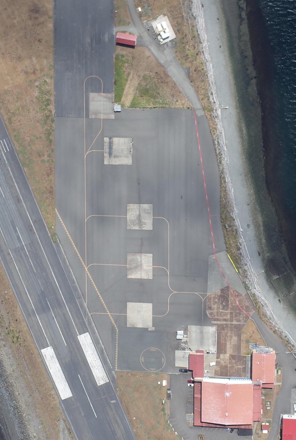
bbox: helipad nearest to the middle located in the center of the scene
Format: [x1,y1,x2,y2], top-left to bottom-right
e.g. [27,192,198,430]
[127,204,153,230]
